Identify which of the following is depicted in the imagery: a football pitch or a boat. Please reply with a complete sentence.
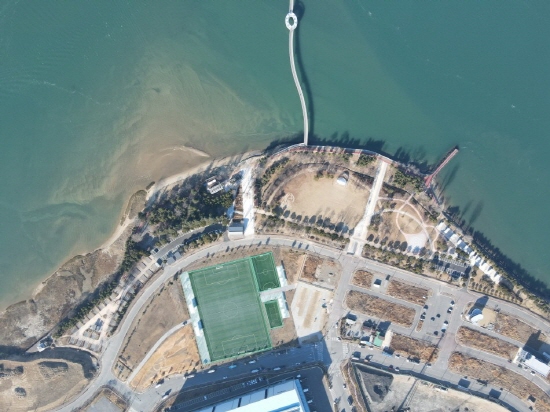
There is a football pitch in the scene.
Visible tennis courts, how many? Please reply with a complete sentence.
No tennis courts are visible.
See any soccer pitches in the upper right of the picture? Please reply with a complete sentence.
No, in the upper right of the picture there is no soccer pitch.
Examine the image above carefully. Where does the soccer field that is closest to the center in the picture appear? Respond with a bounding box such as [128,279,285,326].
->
[251,252,280,291]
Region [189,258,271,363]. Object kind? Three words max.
soccer field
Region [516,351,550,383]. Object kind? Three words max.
building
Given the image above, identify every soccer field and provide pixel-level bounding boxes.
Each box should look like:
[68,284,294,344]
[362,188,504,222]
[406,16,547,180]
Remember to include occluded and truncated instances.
[251,252,280,291]
[265,300,284,329]
[189,258,271,363]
